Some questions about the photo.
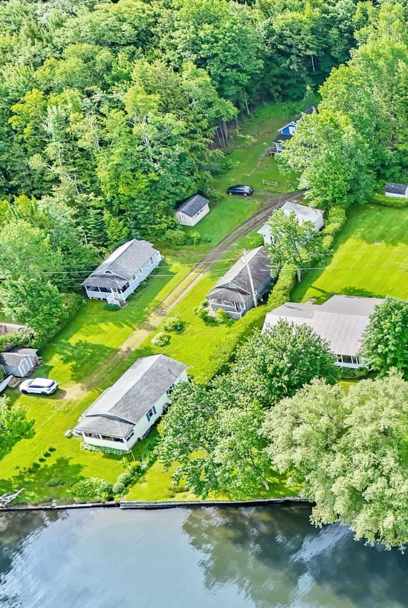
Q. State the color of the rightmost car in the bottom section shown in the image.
white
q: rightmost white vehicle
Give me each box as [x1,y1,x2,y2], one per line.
[15,376,60,397]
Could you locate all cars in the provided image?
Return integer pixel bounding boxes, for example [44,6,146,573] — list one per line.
[15,376,60,397]
[225,185,254,196]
